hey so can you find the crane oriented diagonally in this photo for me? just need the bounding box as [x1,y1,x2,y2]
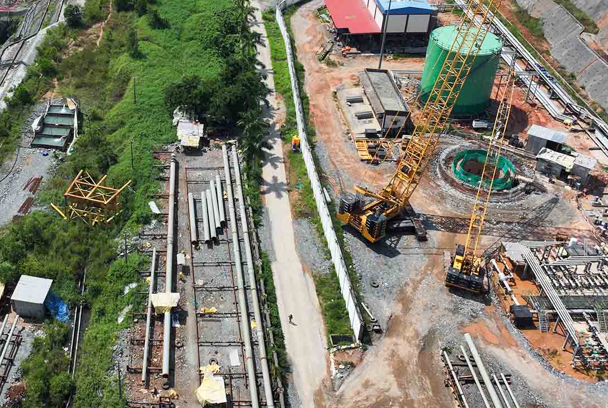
[335,0,518,249]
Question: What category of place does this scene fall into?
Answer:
industrial area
